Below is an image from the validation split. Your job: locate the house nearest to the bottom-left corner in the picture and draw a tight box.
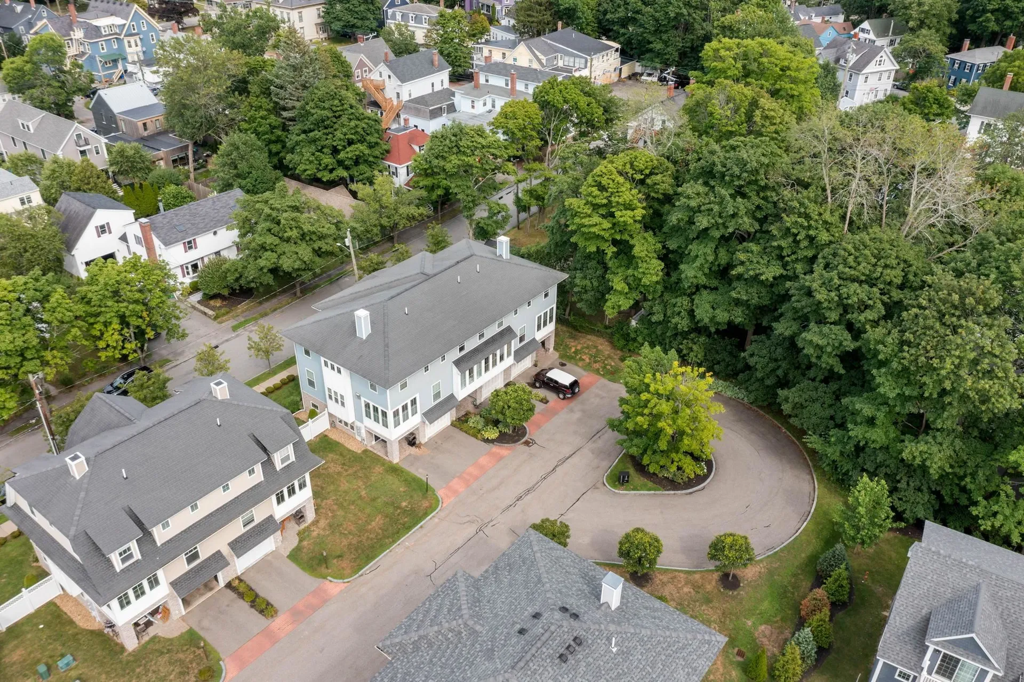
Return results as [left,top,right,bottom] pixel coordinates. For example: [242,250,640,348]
[0,371,326,650]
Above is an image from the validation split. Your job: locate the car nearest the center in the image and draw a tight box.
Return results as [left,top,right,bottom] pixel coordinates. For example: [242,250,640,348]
[530,369,584,401]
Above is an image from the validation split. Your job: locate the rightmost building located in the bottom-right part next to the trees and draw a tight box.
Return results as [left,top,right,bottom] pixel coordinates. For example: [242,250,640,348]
[875,521,1024,682]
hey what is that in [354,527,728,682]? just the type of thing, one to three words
house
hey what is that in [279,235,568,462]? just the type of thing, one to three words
house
